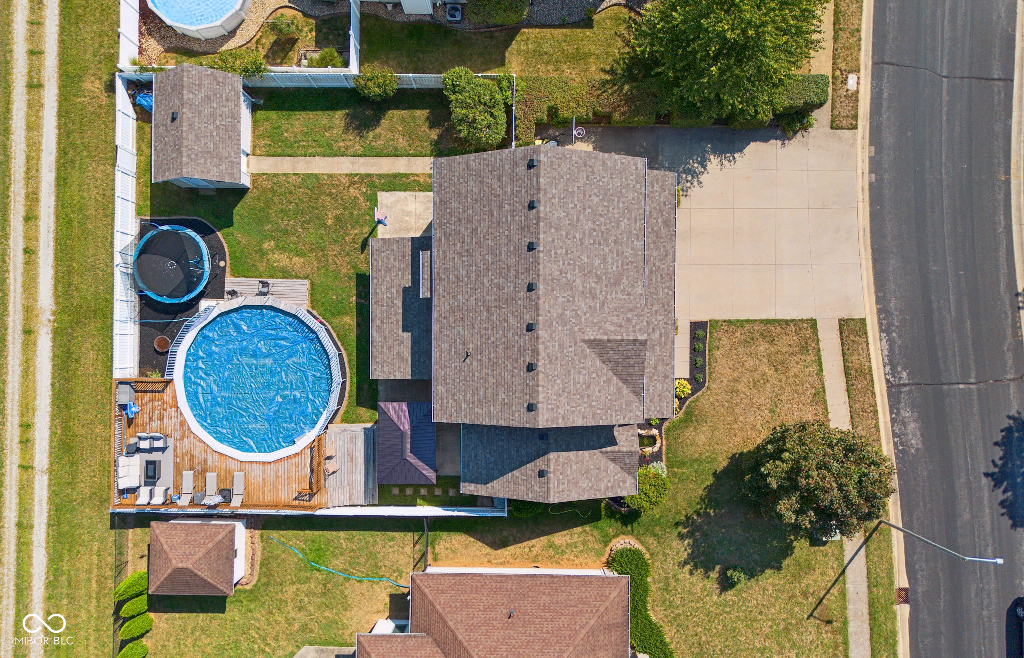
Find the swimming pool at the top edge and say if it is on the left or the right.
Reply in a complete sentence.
You can find the swimming pool at the top edge on the left side of the picture.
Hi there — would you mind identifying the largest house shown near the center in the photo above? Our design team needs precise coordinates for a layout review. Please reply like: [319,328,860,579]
[369,145,679,503]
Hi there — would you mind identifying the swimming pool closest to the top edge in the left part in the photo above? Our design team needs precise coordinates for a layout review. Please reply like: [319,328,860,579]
[147,0,260,38]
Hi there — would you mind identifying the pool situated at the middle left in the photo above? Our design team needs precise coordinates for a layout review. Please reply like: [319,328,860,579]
[173,292,344,461]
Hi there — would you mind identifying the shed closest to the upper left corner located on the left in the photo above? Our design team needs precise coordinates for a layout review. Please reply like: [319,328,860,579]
[151,64,268,198]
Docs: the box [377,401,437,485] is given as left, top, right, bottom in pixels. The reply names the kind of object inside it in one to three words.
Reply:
gazebo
